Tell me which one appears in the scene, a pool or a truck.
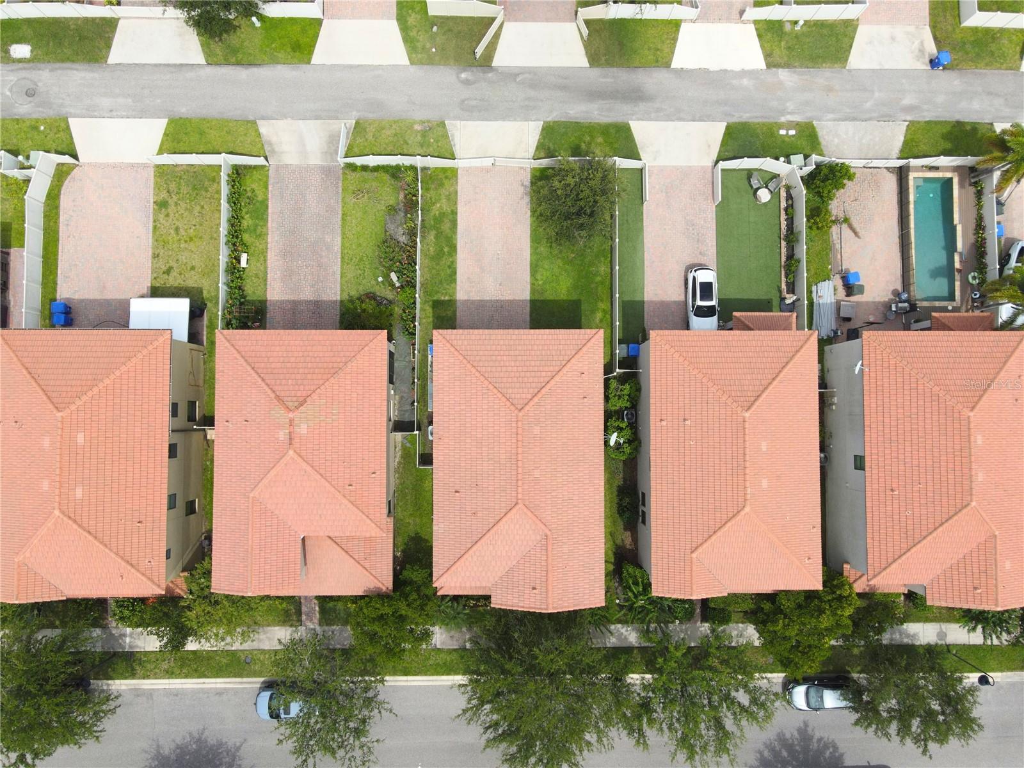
pool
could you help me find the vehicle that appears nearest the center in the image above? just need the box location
[689,270,723,331]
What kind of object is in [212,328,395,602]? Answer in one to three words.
house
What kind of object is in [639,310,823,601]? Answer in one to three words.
house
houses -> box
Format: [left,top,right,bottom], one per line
[825,312,1024,614]
[639,310,823,601]
[431,327,606,614]
[212,328,395,602]
[0,327,213,605]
